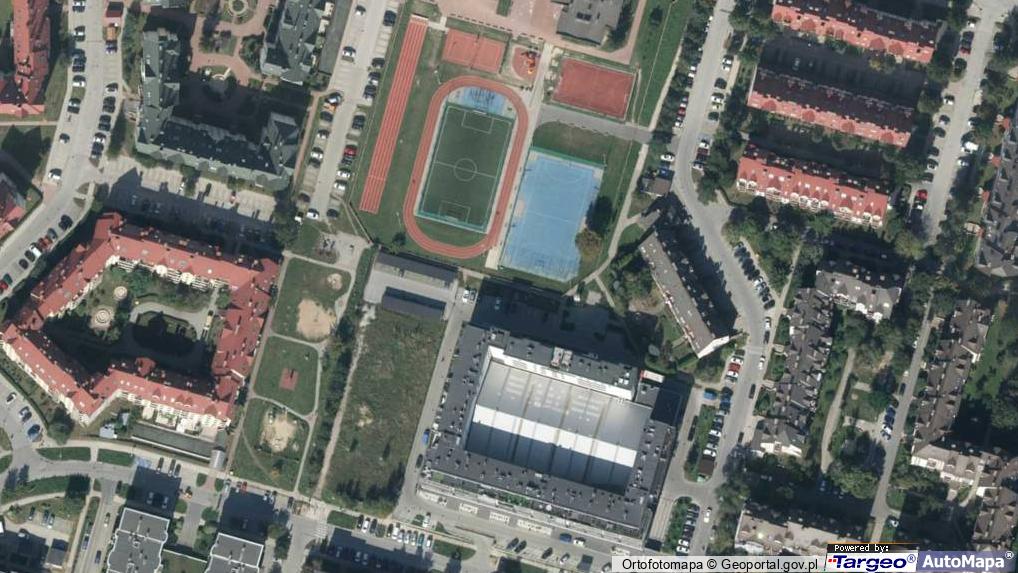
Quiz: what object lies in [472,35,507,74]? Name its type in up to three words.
tennis court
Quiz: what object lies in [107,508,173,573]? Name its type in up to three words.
building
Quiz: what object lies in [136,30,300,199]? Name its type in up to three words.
house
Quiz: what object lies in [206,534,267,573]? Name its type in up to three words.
building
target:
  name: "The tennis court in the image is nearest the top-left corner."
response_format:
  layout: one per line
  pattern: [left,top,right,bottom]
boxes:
[442,28,477,67]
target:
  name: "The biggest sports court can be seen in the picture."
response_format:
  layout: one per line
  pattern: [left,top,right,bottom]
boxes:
[500,146,605,283]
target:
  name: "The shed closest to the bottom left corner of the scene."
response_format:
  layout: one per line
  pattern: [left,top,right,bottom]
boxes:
[47,546,68,569]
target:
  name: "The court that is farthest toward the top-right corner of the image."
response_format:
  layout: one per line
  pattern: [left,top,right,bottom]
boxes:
[552,57,635,118]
